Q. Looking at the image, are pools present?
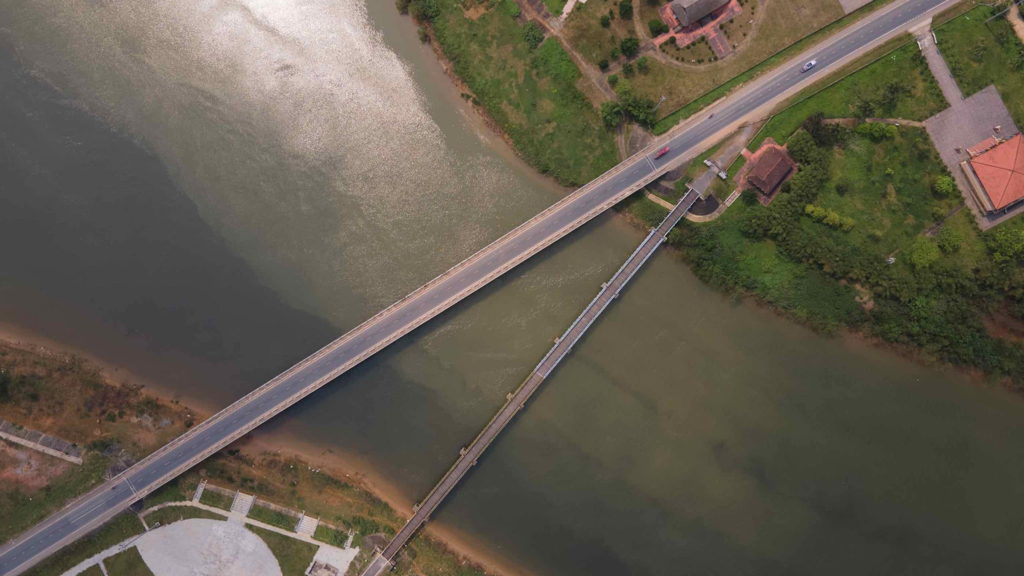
No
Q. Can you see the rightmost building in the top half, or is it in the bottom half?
top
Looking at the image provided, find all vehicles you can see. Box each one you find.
[654,147,670,158]
[800,61,816,72]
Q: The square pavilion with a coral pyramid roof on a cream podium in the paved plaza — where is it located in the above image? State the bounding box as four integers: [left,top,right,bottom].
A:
[956,133,1024,211]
